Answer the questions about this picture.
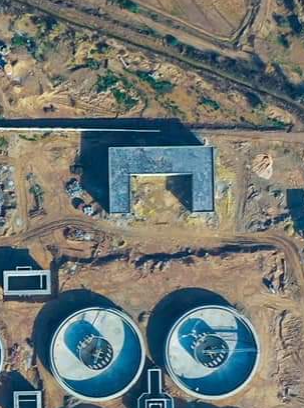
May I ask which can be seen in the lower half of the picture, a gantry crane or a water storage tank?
water storage tank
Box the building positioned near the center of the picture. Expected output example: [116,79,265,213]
[103,146,215,219]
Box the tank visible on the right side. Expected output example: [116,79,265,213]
[162,306,260,400]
